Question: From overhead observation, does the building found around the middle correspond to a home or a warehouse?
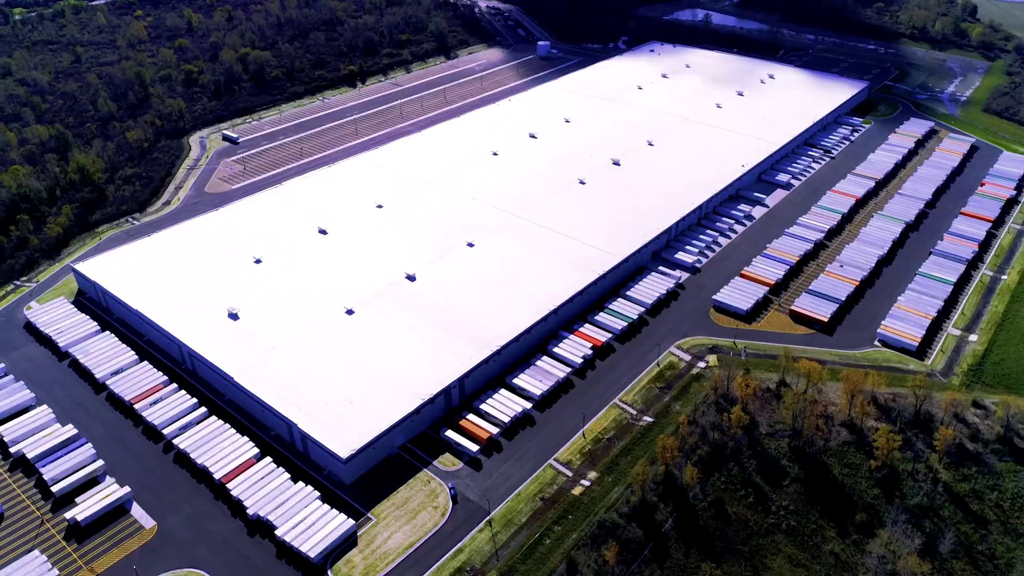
warehouse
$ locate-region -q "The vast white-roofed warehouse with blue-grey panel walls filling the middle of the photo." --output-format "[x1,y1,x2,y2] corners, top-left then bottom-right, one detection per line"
[70,40,869,485]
